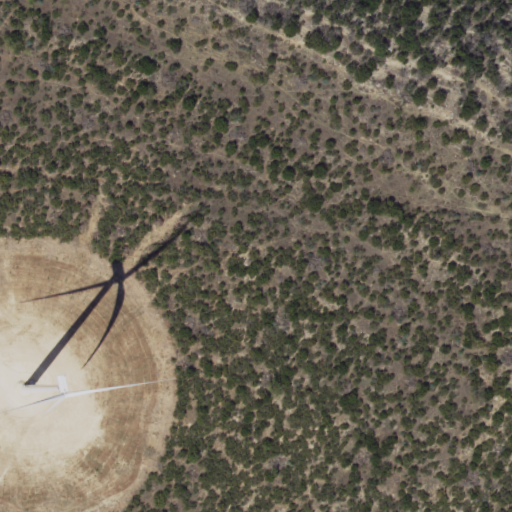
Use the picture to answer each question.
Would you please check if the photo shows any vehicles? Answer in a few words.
No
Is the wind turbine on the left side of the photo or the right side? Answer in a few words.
left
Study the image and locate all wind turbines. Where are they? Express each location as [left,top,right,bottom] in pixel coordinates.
[0,374,164,409]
